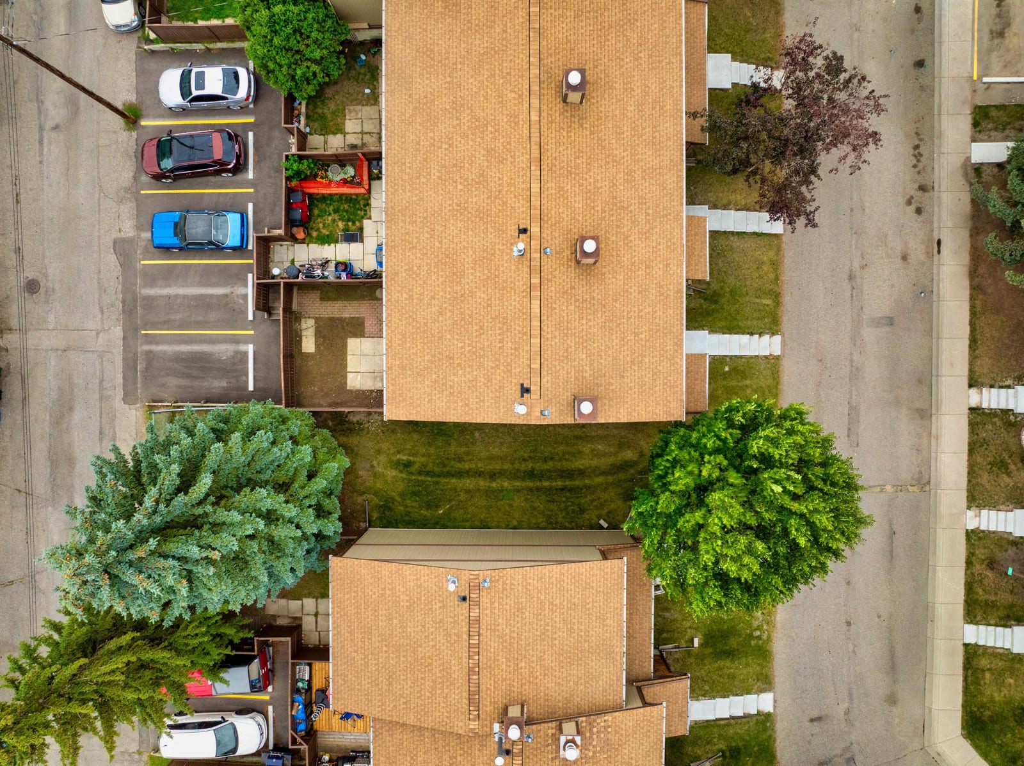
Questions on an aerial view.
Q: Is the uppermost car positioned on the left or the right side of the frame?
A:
left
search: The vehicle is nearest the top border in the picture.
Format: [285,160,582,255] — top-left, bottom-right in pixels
[100,0,147,36]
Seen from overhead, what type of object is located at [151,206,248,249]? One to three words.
car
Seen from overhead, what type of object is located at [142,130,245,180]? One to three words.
car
